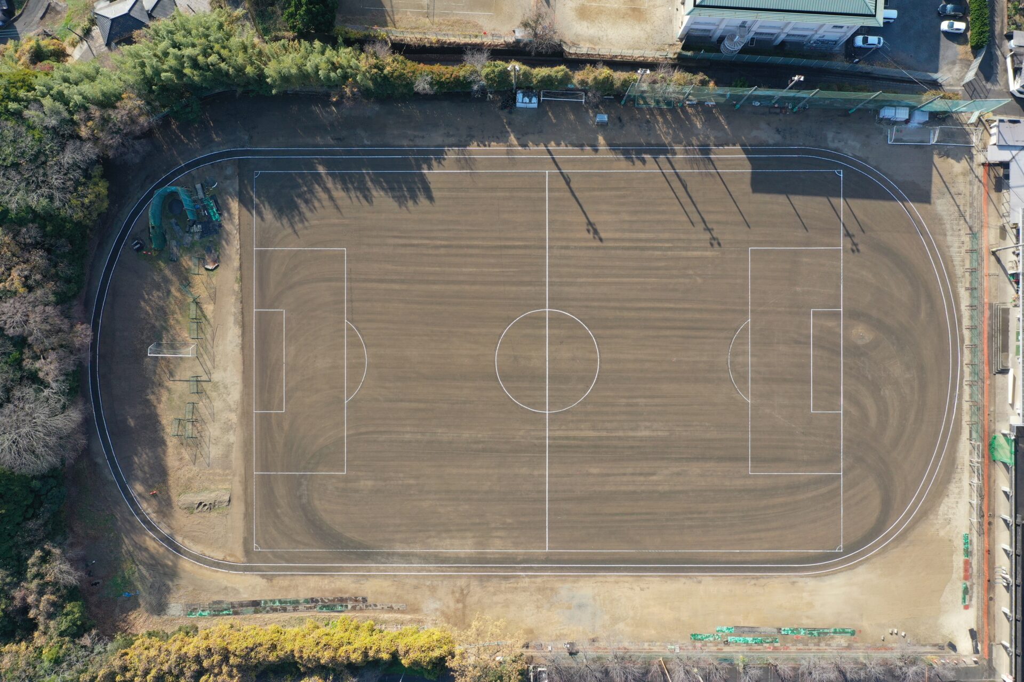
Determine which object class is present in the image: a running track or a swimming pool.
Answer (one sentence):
Looking from above, you can make out a running track.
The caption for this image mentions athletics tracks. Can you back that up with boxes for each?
[89,147,960,575]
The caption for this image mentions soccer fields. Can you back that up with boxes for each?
[240,158,950,564]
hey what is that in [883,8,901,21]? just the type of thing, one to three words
vehicle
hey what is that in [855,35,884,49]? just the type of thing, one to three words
car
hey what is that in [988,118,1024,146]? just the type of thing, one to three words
building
